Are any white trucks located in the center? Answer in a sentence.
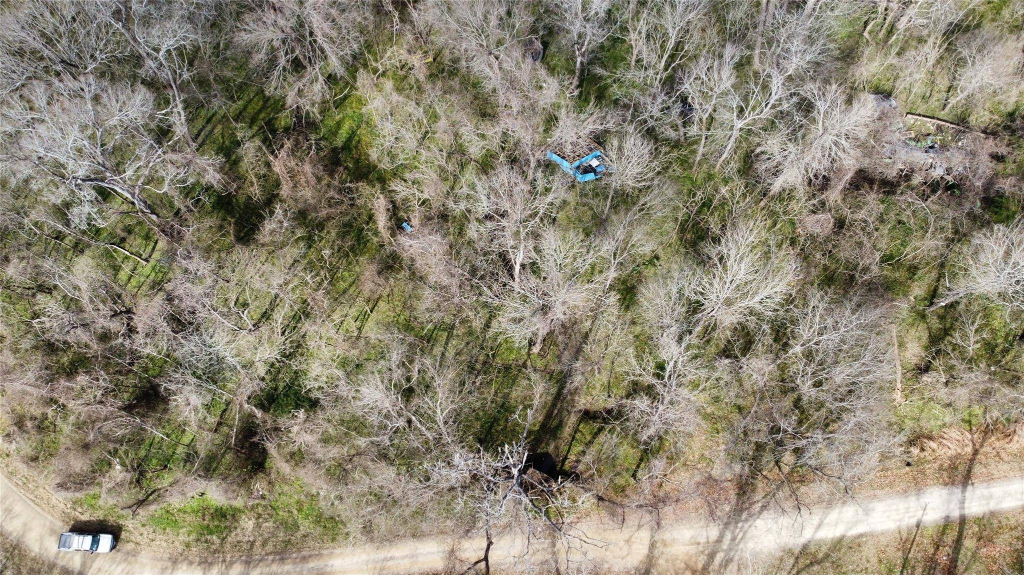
No, there's no white truck to be seen in the center.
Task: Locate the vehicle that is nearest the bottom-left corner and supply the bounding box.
[57,532,117,557]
